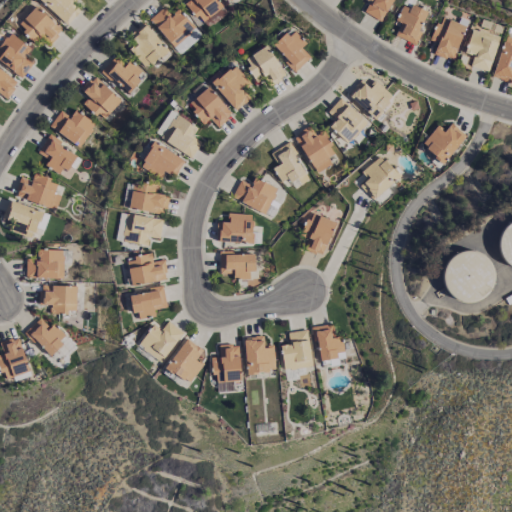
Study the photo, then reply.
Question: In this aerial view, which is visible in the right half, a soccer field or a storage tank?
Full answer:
There is a storage tank in the right half.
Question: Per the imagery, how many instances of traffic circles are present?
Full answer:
There are no traffic circles in this view.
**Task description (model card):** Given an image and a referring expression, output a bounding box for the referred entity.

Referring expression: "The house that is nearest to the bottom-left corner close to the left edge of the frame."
[0,337,33,382]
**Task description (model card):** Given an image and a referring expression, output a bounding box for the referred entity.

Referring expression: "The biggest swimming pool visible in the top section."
[397,155,416,174]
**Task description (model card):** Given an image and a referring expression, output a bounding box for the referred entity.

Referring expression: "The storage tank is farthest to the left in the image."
[444,251,497,303]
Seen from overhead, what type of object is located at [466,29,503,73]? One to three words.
house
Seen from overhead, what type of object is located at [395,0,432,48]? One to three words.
house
